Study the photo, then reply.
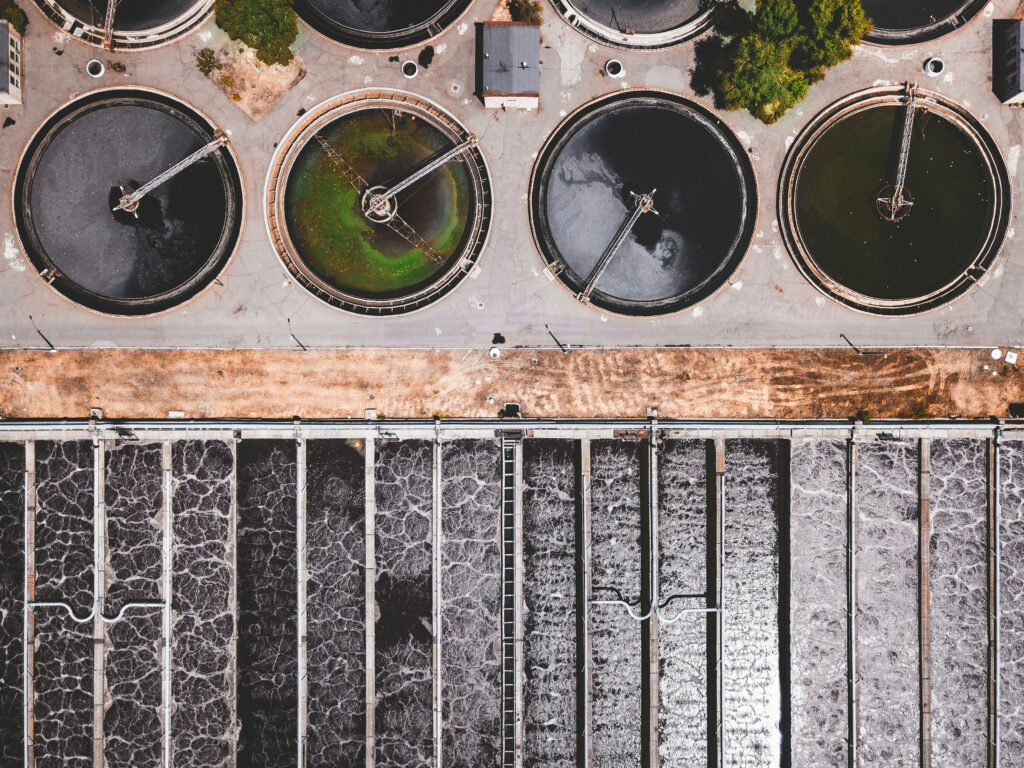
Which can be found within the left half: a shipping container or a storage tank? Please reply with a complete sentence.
You can see a storage tank within the left half.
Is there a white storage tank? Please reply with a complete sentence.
Yes, a white storage tank appears in the view.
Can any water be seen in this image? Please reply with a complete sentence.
Yes, water can be seen from above here.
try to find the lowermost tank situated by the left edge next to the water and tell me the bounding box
[11,85,245,319]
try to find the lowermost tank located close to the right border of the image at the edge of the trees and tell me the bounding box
[777,83,1013,319]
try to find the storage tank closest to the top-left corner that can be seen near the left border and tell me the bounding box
[28,0,219,53]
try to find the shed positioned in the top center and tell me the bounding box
[483,23,540,107]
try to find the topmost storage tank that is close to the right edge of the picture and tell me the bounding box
[846,0,990,49]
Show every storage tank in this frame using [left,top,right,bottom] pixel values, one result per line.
[28,0,219,53]
[11,85,245,319]
[526,85,760,319]
[546,0,736,52]
[263,86,494,317]
[777,83,1013,319]
[846,0,990,49]
[291,0,477,52]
